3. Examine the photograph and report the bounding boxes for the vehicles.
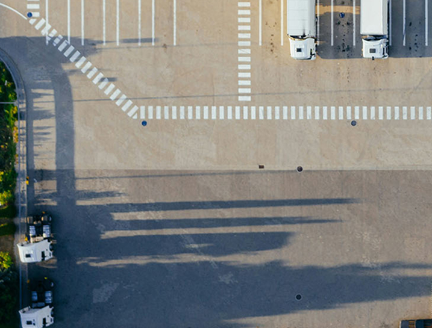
[362,0,390,60]
[15,213,55,263]
[17,278,57,328]
[286,0,319,60]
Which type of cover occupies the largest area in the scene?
paved ground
